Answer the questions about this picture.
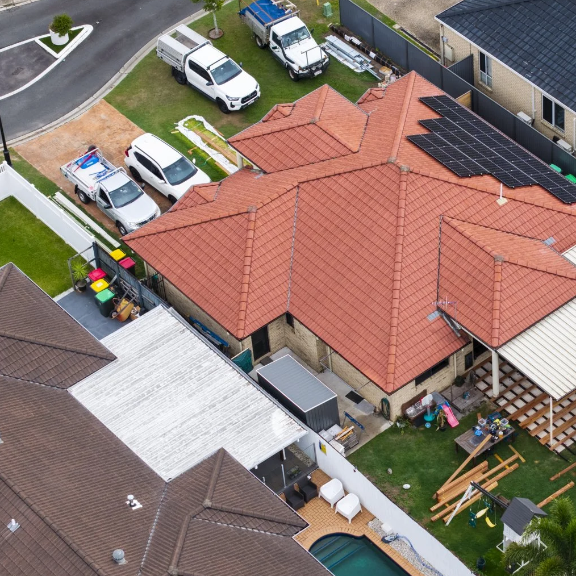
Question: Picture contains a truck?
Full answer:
Yes, a truck can be made out from above.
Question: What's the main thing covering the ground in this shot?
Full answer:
The scene is dominated by buildings.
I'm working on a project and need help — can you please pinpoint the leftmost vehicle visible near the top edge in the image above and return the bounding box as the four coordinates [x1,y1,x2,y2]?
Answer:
[157,25,266,115]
